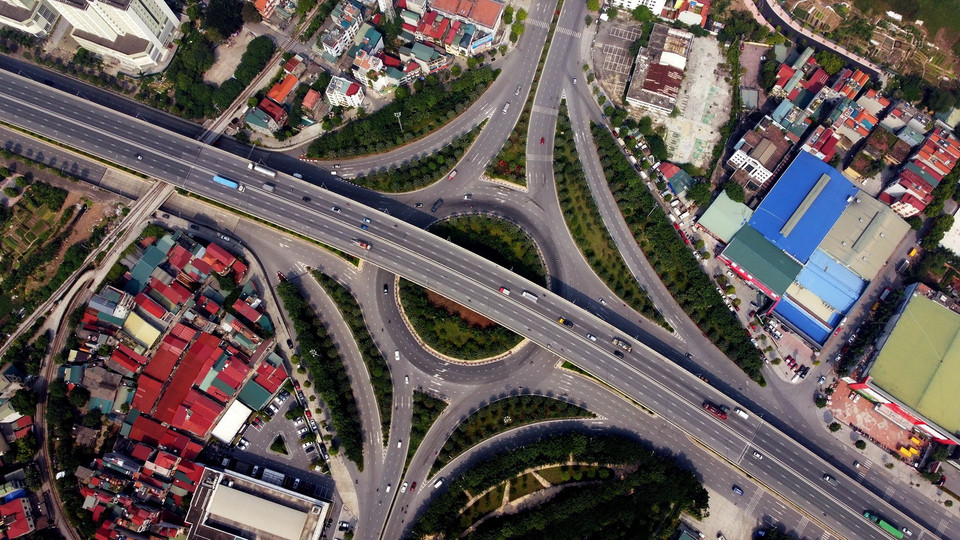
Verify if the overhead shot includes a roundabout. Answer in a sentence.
Yes, looking at the shot, I can spot a roundabout.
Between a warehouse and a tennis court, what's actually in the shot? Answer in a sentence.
The image shows a warehouse.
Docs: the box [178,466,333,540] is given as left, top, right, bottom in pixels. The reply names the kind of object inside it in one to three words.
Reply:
building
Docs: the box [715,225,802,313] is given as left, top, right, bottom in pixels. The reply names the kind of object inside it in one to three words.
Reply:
building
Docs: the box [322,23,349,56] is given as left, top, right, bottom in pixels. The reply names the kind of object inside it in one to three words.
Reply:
house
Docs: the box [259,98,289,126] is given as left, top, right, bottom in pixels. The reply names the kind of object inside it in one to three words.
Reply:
house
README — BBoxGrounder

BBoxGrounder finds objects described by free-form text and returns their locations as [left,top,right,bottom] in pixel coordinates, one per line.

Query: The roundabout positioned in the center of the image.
[377,198,567,384]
